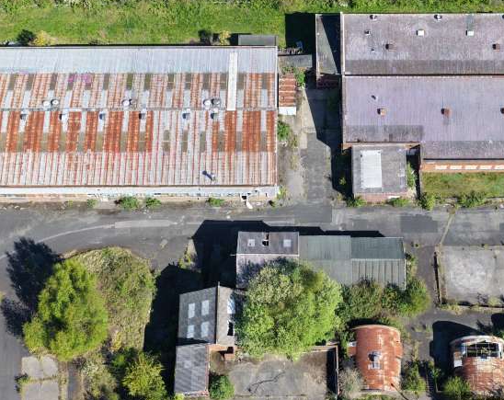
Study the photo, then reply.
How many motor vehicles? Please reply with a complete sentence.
Not a single motor vehicle can be seen.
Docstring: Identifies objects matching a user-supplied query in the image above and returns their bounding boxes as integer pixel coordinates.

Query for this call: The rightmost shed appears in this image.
[454,335,504,400]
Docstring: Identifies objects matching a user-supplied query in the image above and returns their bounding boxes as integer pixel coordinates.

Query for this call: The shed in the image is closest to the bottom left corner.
[174,348,212,399]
